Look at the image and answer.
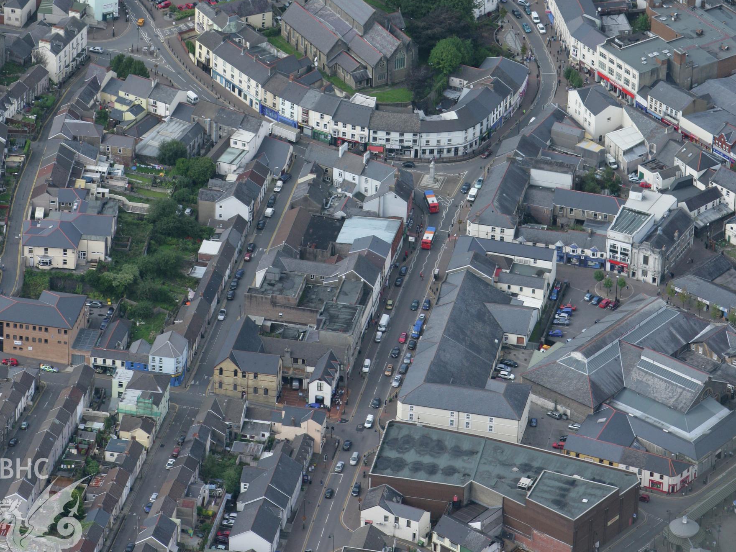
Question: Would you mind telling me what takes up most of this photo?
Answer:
buildings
